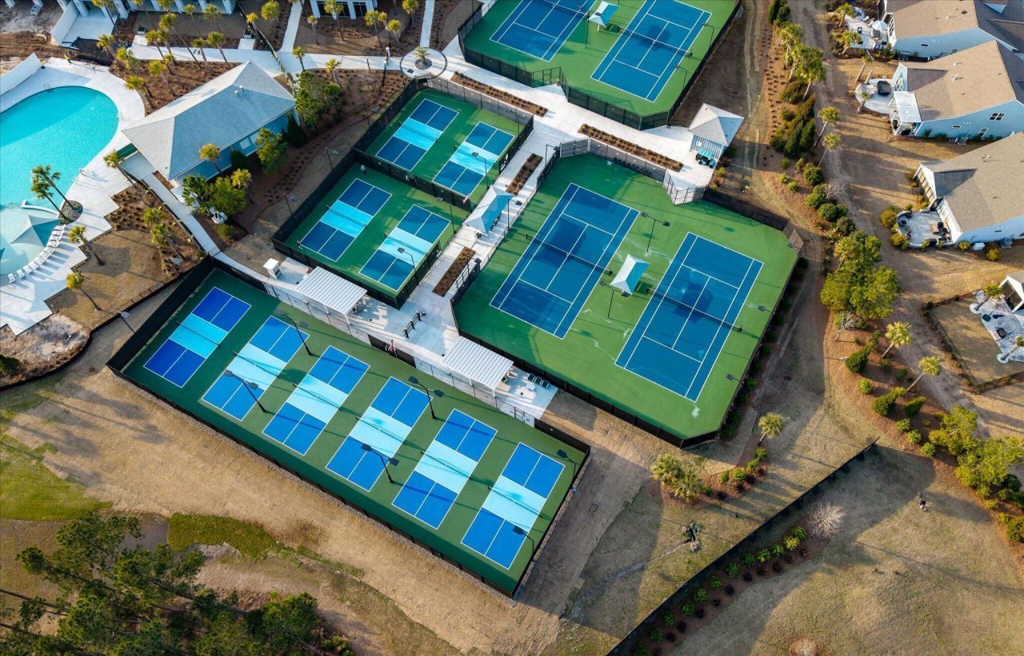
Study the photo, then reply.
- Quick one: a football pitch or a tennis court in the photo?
tennis court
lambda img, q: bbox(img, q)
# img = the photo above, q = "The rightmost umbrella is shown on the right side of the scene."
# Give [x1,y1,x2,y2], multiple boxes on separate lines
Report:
[984,308,1002,322]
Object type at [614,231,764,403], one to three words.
tennis court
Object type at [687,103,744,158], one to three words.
barn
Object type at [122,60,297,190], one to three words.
building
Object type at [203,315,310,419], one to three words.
sports court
